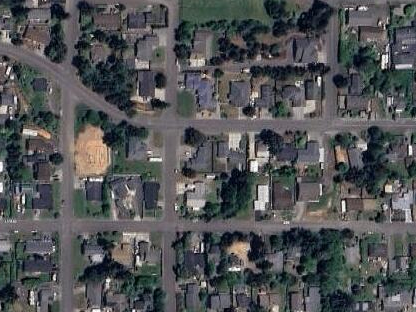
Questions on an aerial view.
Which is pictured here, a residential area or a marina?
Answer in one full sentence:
This looks like a residential area.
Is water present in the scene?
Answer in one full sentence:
No, no water is visible.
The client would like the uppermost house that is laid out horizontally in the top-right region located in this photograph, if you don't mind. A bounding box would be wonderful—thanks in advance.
[346,8,386,25]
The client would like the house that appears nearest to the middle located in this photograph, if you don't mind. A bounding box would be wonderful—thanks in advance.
[190,143,212,171]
